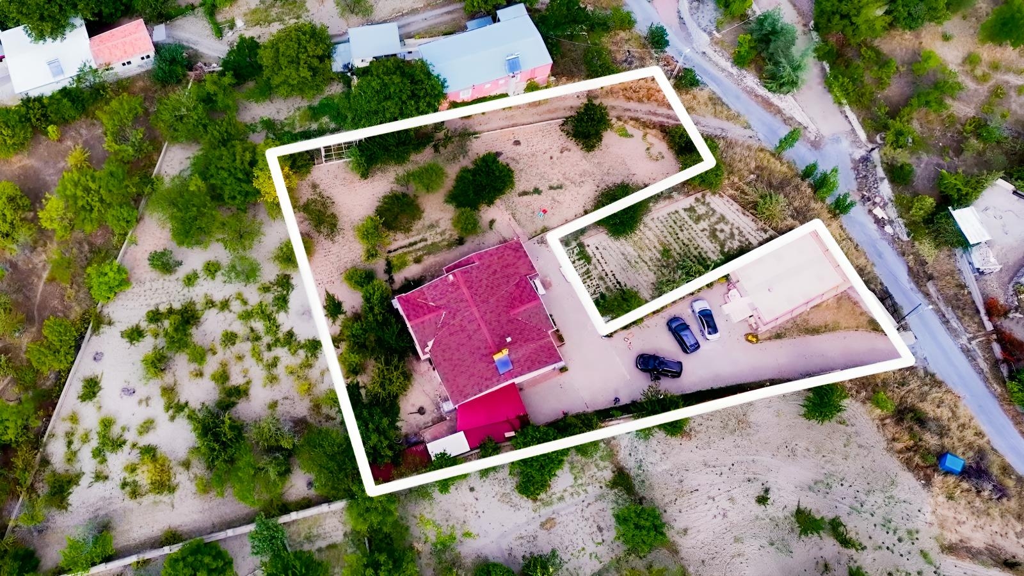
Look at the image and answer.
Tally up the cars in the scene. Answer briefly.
3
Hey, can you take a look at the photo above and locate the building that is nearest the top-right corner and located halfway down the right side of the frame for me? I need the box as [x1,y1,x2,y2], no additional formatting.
[728,228,851,330]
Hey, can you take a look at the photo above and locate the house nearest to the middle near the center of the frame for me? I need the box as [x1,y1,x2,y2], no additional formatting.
[395,239,565,414]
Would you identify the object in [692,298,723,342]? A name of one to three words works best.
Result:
car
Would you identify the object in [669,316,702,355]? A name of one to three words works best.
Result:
car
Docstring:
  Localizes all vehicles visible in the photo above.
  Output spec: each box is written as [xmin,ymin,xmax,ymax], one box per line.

[692,298,723,342]
[669,316,702,355]
[635,352,684,387]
